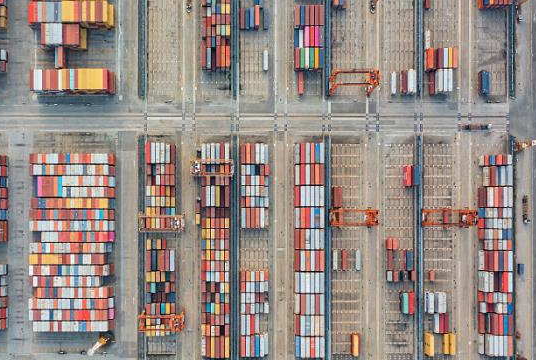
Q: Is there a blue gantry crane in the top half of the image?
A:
No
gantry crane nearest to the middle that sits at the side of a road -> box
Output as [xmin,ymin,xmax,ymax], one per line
[189,158,235,181]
